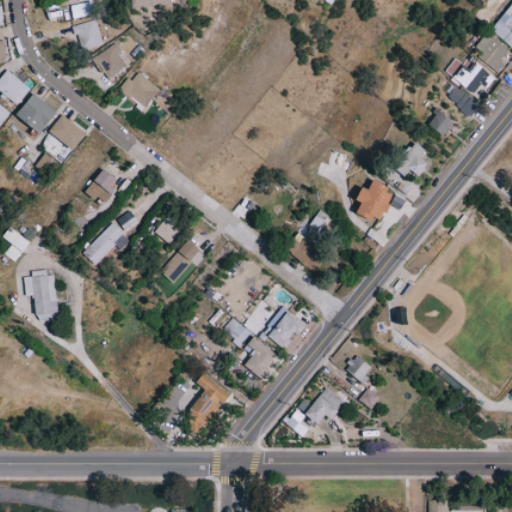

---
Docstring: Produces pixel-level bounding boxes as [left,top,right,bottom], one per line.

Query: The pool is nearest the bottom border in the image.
[274,290,294,304]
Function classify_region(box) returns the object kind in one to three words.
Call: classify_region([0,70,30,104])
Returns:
house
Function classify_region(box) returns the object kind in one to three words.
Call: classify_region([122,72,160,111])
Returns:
house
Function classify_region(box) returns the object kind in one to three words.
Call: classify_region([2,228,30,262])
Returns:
barn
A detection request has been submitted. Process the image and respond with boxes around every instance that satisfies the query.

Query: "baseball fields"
[392,216,512,400]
